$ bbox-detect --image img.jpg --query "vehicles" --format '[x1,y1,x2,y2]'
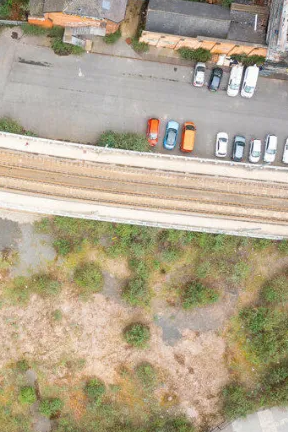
[162,120,179,151]
[224,62,246,100]
[238,63,262,101]
[230,134,248,164]
[213,131,230,160]
[191,62,208,88]
[262,133,280,164]
[146,118,160,148]
[248,137,263,165]
[179,122,197,153]
[280,136,288,166]
[207,66,224,93]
